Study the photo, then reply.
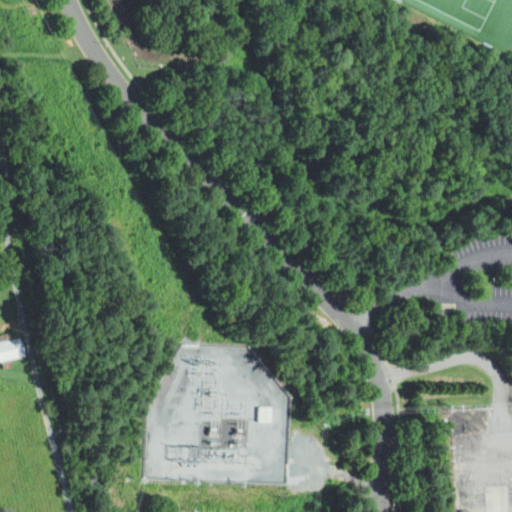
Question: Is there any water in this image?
No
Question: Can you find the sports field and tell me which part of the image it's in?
top right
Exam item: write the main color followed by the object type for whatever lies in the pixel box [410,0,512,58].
green sports field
